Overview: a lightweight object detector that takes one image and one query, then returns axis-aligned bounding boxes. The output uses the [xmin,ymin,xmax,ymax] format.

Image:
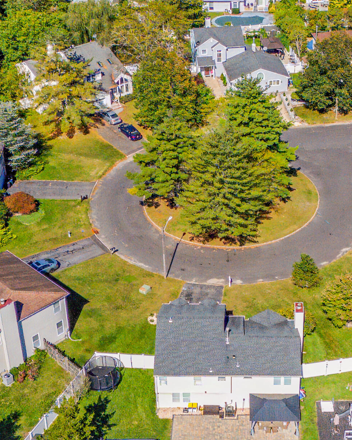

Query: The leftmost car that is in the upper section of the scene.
[100,108,124,123]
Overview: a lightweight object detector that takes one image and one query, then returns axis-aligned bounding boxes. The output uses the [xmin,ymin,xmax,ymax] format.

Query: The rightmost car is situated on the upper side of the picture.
[120,124,145,139]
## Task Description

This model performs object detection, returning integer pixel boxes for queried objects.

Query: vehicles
[100,108,124,123]
[32,256,63,274]
[120,124,145,139]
